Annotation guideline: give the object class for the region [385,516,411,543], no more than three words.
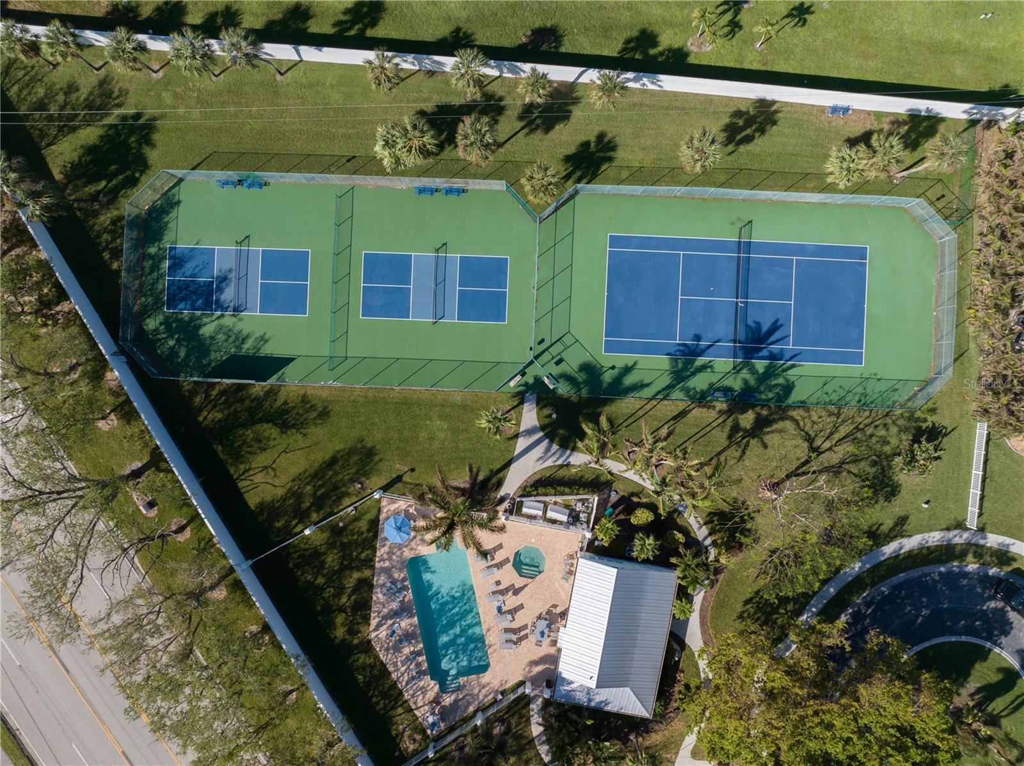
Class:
umbrella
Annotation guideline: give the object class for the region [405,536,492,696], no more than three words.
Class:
swimming pool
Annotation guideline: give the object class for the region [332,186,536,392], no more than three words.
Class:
sports court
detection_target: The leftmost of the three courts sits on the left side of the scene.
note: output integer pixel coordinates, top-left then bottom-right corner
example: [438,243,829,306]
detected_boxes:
[138,181,340,388]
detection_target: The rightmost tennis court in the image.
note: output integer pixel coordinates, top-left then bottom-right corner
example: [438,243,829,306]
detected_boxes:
[532,193,936,408]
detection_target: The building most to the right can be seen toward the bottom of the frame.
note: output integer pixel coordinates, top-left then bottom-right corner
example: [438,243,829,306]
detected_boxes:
[553,551,678,719]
